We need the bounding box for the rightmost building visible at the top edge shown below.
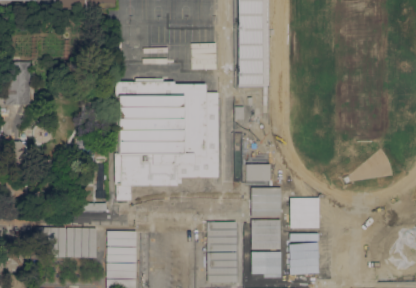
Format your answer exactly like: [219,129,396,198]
[240,0,270,112]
